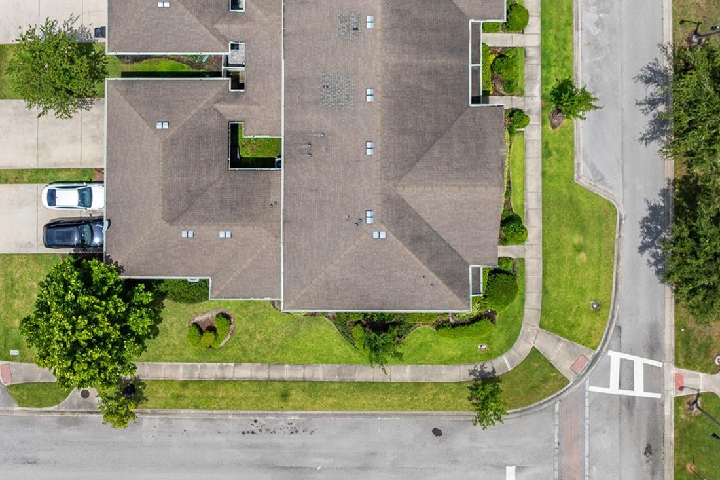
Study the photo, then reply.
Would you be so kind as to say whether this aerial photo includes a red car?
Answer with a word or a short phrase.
No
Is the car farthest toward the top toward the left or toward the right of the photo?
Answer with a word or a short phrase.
left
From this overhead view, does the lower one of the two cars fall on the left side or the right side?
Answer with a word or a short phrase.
left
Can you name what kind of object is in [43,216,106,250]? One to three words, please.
car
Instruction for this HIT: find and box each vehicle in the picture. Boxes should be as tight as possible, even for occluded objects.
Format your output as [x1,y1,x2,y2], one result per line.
[43,216,106,250]
[41,180,106,212]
